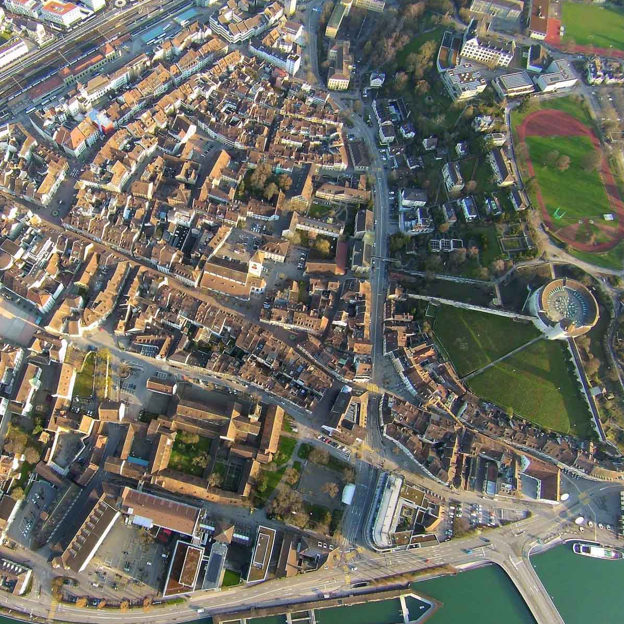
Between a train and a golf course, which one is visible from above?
train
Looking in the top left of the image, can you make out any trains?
Yes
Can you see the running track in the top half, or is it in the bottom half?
top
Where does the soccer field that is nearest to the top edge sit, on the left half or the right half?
right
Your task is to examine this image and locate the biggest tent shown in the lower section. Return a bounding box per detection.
[338,484,355,507]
